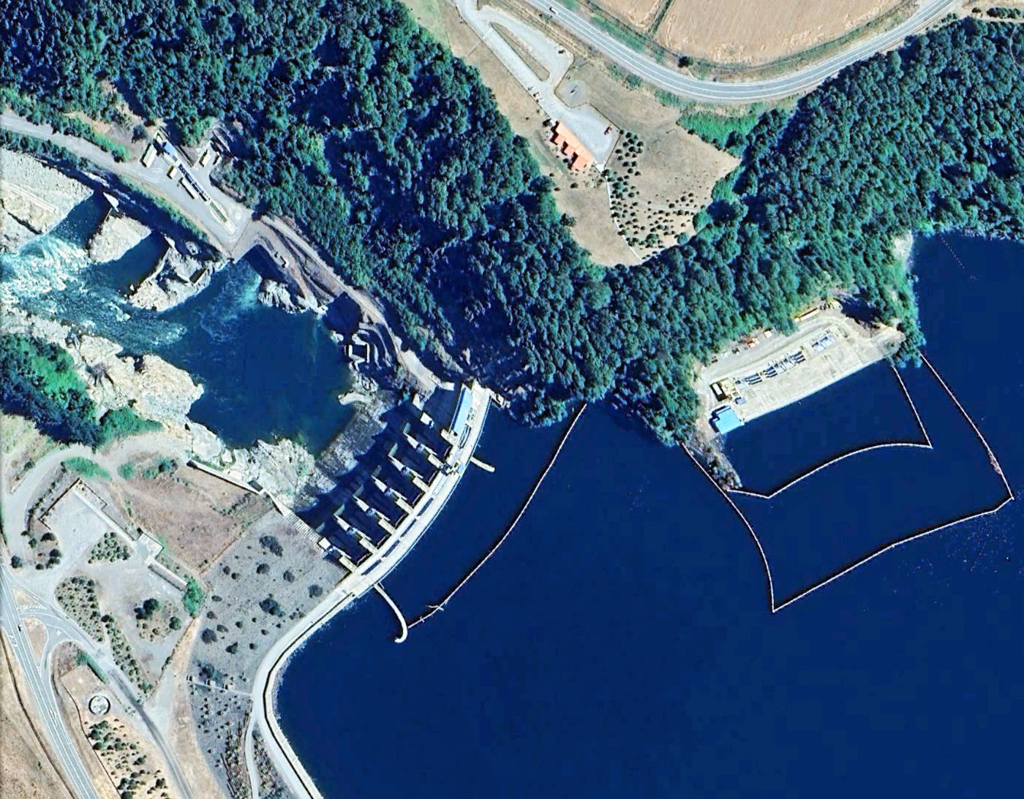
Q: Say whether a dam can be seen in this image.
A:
Yes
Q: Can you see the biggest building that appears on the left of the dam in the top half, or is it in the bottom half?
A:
bottom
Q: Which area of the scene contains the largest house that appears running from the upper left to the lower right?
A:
top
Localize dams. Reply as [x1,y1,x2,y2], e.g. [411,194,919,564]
[310,380,506,643]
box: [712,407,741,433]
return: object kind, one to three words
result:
building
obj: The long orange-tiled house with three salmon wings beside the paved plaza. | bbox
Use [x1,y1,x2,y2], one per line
[550,119,593,172]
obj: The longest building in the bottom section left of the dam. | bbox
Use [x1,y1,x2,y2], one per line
[149,561,187,590]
